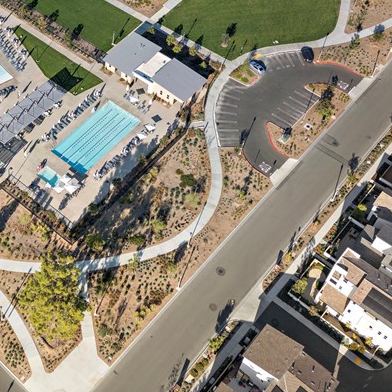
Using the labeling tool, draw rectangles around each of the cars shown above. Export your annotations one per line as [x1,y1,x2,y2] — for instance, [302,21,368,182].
[303,45,313,59]
[251,59,267,72]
